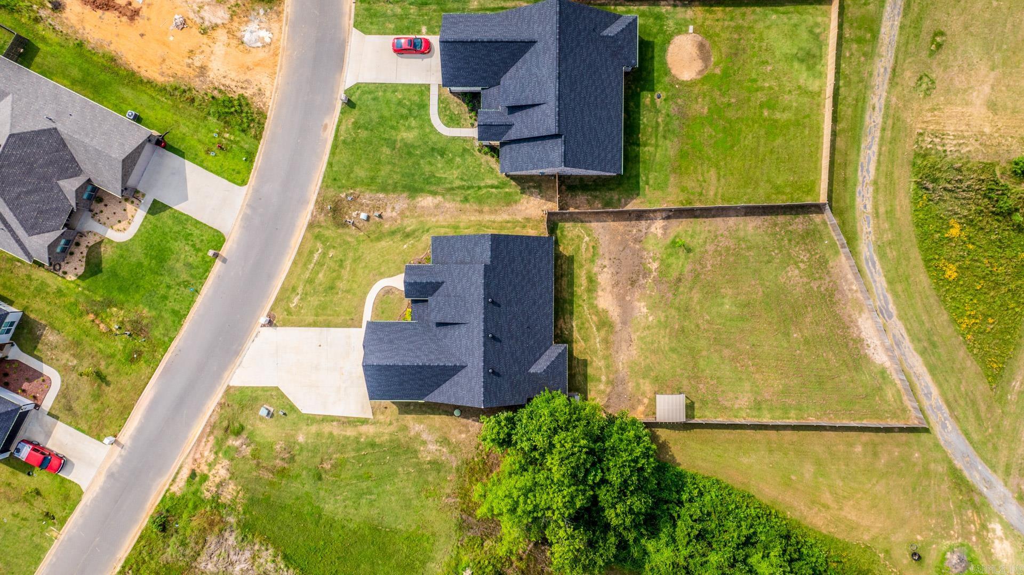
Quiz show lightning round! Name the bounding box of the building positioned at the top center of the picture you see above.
[440,0,639,176]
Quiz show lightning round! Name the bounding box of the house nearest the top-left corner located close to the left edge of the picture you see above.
[0,58,160,266]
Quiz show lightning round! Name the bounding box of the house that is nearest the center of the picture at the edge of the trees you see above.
[362,233,569,408]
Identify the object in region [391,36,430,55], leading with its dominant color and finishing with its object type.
red car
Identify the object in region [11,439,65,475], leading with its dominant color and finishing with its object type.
red truck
